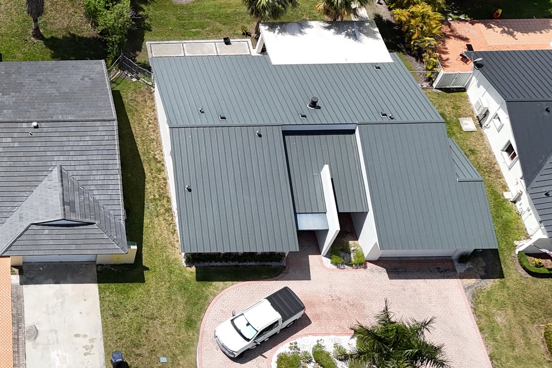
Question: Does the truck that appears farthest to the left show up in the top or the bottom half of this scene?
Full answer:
The truck that appears farthest to the left is in the bottom half of the image.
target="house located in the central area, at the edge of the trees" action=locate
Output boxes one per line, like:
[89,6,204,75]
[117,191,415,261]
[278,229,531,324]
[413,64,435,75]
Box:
[149,52,498,262]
